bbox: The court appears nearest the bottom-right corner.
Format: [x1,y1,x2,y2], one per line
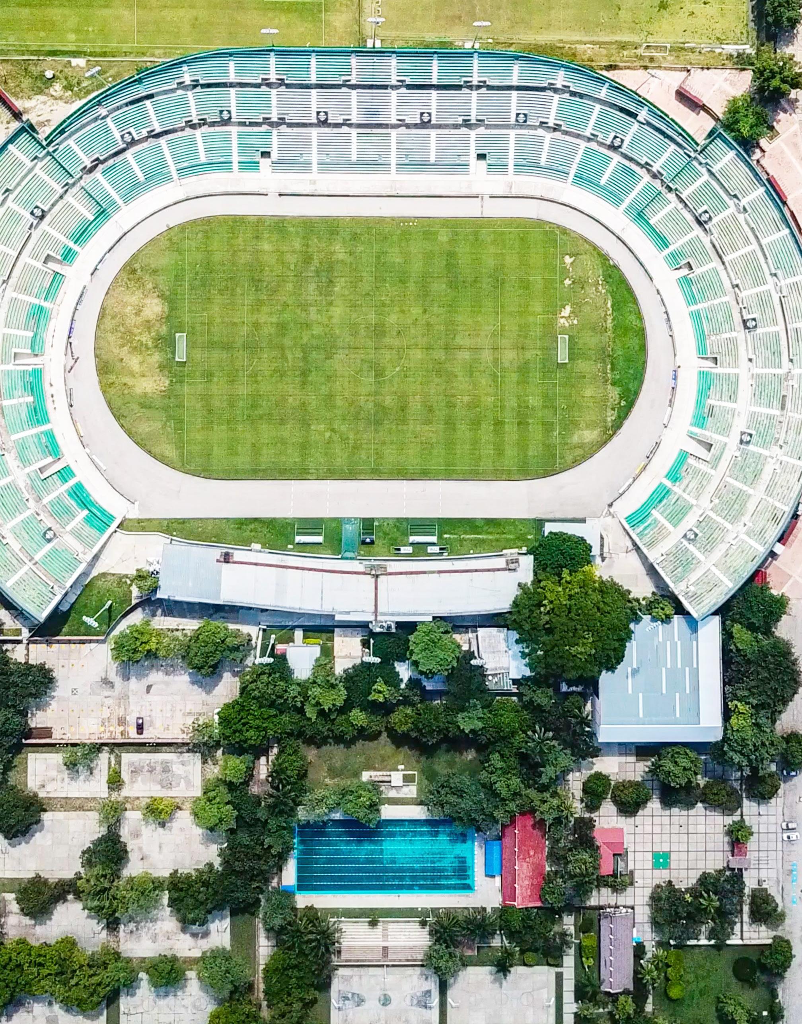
[447,967,555,1024]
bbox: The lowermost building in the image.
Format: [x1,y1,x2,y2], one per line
[600,908,634,992]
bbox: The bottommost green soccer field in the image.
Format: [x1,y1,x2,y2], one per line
[94,216,648,480]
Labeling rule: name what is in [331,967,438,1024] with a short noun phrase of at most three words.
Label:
basketball court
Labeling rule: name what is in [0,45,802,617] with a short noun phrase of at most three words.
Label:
stadium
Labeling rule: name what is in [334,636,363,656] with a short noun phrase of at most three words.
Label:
building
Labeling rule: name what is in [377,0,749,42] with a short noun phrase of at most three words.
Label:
sports field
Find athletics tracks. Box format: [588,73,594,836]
[64,194,676,517]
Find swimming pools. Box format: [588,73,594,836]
[281,806,502,908]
